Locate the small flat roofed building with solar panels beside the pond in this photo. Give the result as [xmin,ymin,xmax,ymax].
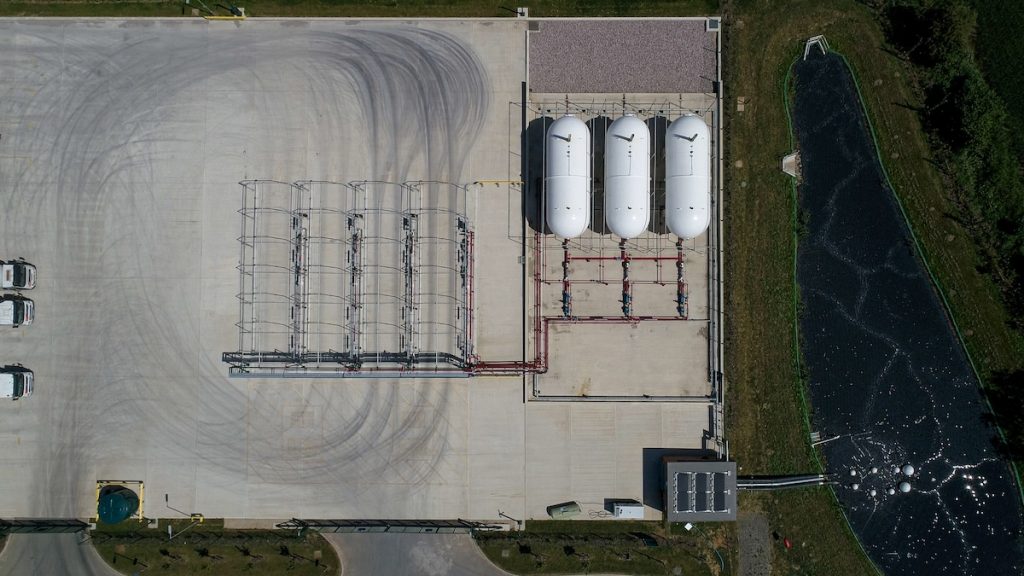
[662,456,736,521]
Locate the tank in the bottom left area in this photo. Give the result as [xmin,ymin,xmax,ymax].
[98,486,140,524]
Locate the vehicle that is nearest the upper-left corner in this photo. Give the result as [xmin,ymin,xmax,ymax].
[0,259,35,291]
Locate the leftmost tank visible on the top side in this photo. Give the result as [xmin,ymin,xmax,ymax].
[545,112,590,239]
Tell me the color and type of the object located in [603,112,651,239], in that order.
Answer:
white storage tank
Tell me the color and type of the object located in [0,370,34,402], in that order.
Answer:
white truck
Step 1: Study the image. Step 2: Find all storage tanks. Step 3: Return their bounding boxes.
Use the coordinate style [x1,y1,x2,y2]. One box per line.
[98,486,140,524]
[660,112,712,239]
[603,112,651,239]
[545,112,590,239]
